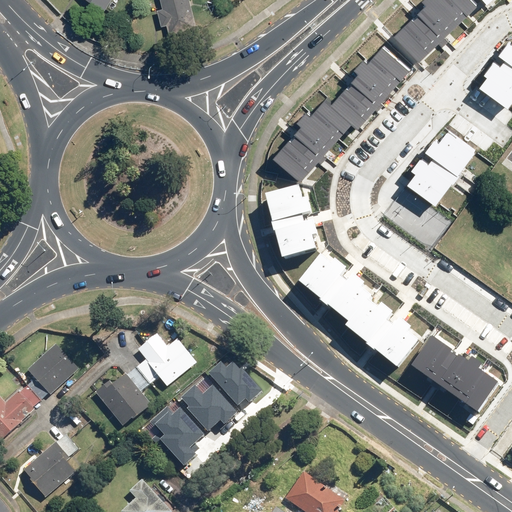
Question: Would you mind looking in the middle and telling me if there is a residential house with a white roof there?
Yes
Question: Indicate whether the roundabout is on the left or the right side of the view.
left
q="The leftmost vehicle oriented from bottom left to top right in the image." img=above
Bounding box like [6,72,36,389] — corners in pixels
[1,260,18,278]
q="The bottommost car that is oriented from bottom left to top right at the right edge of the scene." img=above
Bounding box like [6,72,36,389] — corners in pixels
[476,425,490,441]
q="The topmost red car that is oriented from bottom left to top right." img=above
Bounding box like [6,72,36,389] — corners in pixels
[241,98,256,114]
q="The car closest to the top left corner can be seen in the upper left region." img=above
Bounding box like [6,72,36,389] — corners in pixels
[52,51,66,64]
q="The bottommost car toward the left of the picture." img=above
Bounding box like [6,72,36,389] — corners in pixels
[159,479,174,494]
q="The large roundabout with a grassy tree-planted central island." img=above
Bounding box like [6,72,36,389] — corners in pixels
[13,79,228,306]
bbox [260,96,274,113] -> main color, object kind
white car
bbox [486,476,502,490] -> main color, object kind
white car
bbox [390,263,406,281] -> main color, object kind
white vehicle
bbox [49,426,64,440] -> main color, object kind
white vehicle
